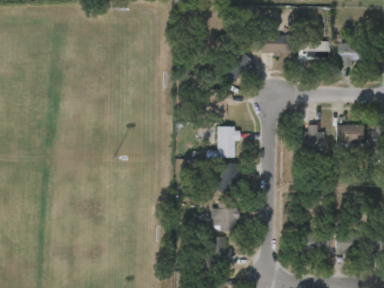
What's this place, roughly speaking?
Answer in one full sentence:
It's a sports ground.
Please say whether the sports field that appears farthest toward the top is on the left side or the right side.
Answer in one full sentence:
You can find the sports field that appears farthest toward the top on the left side of the picture.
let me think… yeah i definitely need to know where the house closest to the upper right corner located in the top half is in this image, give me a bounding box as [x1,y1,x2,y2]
[338,44,360,68]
